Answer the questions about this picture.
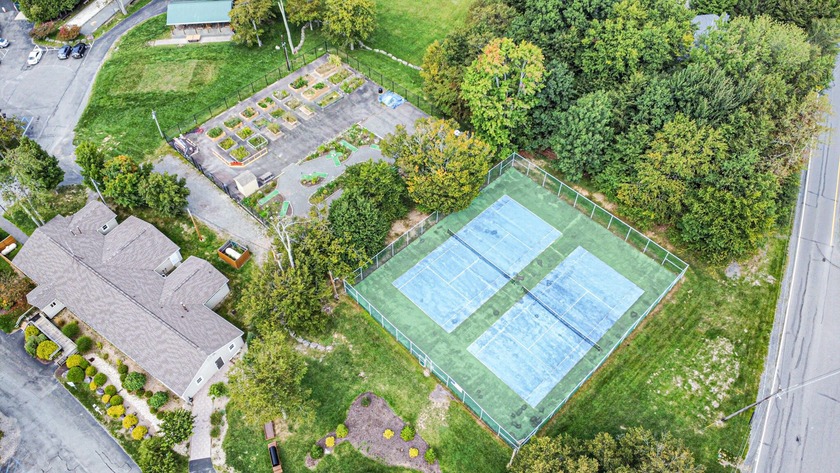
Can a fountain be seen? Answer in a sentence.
No, the picture doesn't show any fountain.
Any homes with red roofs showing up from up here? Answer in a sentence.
No, no home with a red roof is visible in the scene.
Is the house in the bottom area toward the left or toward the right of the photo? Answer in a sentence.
The house in the bottom area is on the left side of the image.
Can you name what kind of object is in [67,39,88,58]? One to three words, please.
car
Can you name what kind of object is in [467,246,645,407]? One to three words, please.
tennis court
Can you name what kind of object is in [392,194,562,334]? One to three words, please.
tennis court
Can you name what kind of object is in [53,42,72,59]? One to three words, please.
car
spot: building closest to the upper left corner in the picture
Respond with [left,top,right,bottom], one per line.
[167,0,239,33]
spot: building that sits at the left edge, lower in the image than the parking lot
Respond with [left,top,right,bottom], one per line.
[11,201,246,403]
